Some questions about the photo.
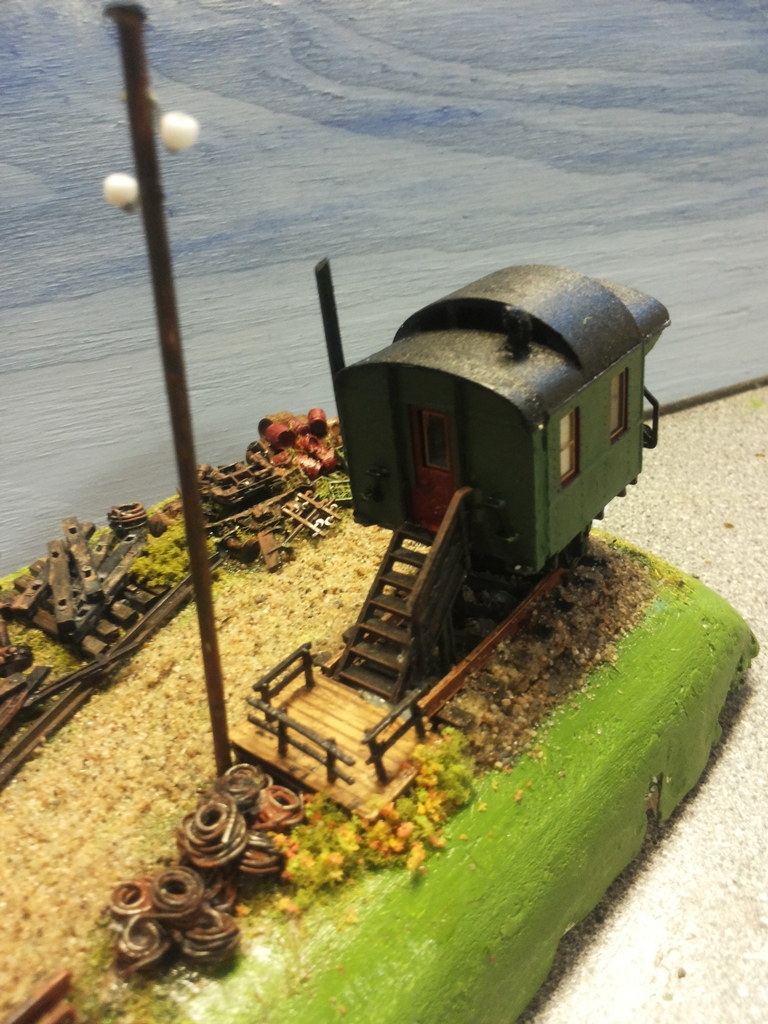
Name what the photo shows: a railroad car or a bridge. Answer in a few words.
railroad car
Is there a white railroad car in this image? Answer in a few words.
No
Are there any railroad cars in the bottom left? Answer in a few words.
No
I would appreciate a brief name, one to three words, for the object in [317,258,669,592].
rail car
